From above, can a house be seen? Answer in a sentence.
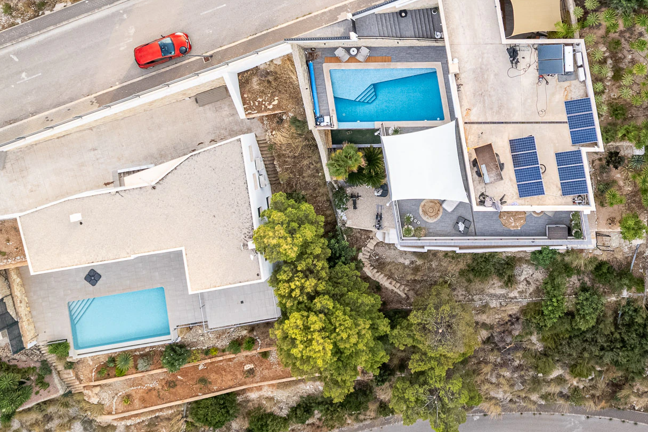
Yes, the photo shows a house.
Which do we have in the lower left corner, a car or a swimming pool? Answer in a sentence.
Looking in the lower left corner, you will find a swimming pool.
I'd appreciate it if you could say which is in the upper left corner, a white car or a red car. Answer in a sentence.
Looking in the upper left corner, you will find a red car.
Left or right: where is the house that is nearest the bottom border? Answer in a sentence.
The house that is nearest the bottom border sits on the left side.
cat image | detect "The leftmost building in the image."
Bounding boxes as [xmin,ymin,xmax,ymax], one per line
[19,134,269,293]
